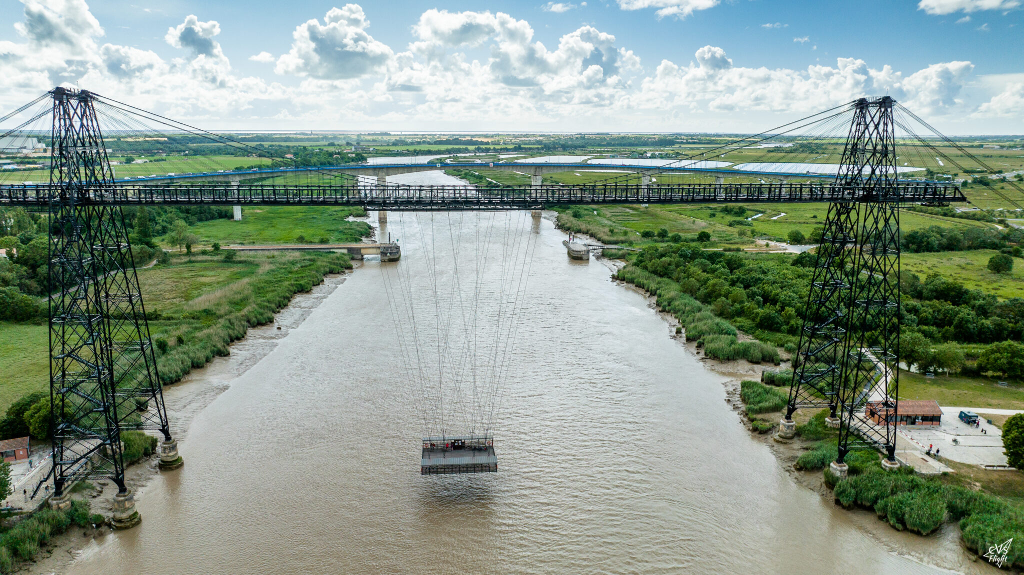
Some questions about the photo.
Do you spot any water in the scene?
Yes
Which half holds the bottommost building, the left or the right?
left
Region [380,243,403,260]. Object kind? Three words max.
pier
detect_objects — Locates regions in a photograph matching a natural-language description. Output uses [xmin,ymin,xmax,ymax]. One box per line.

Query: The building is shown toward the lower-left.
[0,433,34,462]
